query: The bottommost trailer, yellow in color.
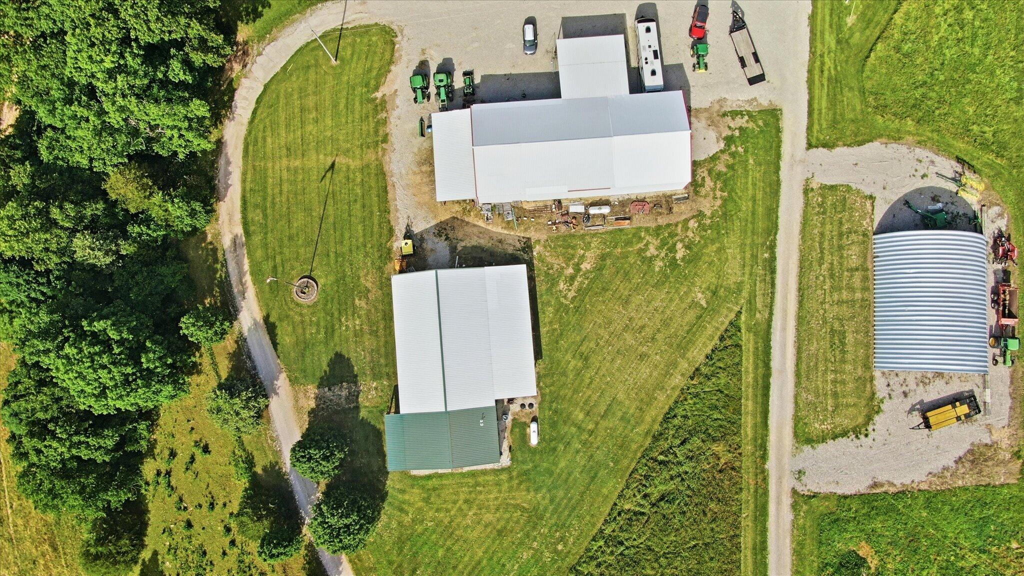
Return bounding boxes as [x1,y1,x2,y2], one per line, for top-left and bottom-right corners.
[908,396,981,431]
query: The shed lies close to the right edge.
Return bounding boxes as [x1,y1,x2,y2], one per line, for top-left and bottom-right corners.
[871,230,990,373]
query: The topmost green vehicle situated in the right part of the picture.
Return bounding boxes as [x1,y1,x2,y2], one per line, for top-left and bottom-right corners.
[691,45,708,74]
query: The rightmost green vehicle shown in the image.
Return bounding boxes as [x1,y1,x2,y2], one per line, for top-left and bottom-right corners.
[991,338,1020,365]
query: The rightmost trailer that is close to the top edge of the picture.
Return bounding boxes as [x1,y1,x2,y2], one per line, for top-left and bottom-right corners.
[730,8,765,85]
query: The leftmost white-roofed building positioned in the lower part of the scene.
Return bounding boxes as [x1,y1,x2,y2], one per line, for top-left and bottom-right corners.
[384,263,536,472]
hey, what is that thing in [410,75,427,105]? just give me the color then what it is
green work vehicle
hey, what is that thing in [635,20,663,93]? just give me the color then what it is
white camper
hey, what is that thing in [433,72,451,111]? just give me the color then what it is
green work vehicle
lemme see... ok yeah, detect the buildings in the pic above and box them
[431,34,694,206]
[871,230,990,373]
[384,263,536,472]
